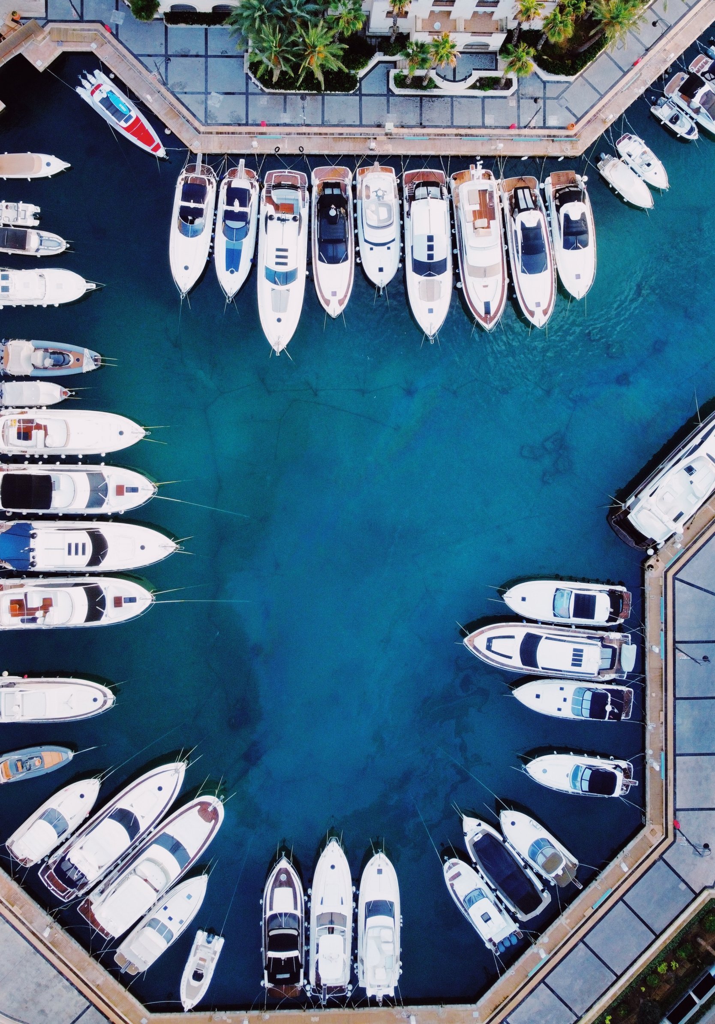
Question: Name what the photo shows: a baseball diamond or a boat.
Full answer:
Of the two, only a boat appears.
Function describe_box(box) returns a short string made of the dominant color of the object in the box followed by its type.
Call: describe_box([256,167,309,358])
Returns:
white boat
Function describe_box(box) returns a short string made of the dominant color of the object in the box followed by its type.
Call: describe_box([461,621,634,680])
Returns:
white boat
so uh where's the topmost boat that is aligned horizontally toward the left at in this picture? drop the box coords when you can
[0,152,75,179]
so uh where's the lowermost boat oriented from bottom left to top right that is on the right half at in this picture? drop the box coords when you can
[600,405,715,556]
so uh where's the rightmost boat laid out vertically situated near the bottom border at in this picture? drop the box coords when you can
[358,848,402,1005]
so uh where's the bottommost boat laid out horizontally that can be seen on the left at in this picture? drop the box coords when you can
[0,747,76,784]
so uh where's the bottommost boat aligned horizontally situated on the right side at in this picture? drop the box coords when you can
[519,752,638,800]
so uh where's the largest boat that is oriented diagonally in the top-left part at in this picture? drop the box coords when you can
[74,66,170,159]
